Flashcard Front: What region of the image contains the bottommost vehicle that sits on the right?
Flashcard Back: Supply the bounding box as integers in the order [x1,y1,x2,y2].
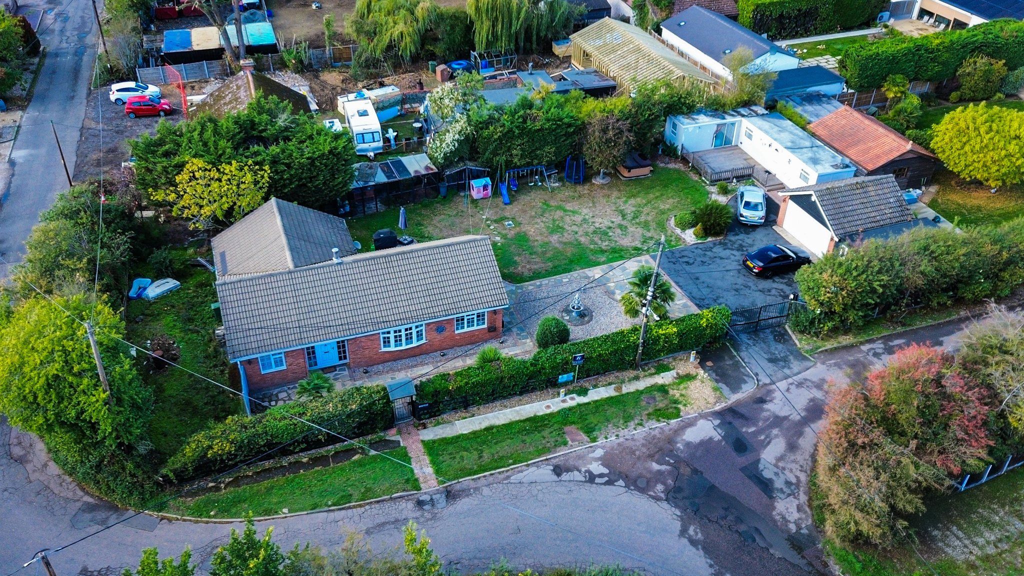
[741,244,809,282]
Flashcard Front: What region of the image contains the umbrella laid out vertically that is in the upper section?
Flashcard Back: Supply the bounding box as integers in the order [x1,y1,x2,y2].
[398,205,412,245]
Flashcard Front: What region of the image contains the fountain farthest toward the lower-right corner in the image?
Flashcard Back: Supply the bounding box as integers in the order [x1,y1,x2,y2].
[562,286,596,325]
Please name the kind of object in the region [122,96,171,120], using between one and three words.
car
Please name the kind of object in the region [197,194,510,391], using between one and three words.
house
